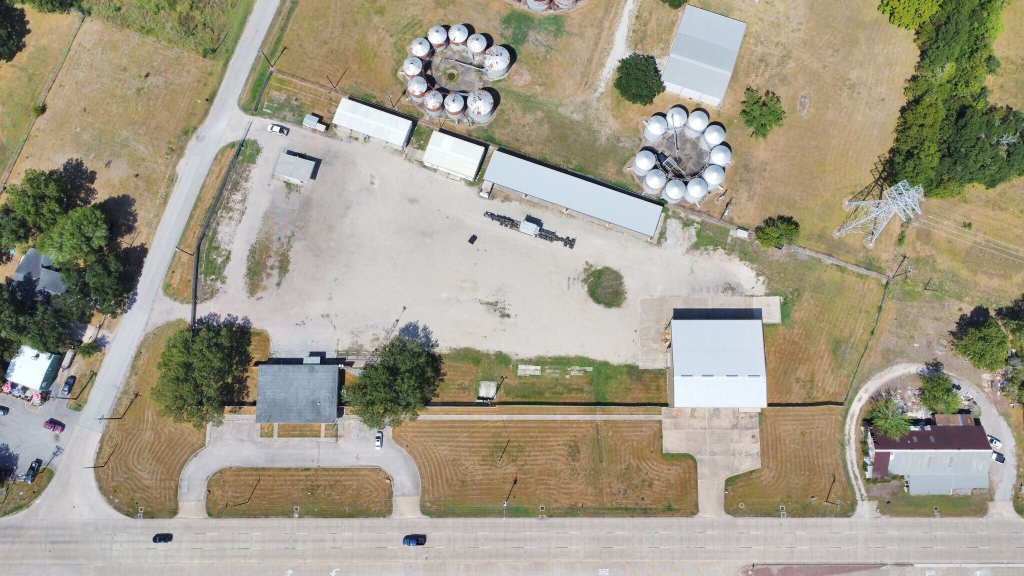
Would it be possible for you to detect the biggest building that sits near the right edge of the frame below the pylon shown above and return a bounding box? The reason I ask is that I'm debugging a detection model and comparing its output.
[862,425,992,495]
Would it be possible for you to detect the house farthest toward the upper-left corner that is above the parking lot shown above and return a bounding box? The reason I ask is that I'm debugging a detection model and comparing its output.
[9,249,62,302]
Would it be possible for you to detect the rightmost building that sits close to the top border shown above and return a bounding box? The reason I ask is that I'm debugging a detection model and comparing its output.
[660,5,746,106]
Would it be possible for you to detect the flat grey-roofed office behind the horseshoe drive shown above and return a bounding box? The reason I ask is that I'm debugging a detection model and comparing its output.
[255,355,355,423]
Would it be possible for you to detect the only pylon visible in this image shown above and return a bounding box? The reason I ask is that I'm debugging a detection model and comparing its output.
[836,181,924,246]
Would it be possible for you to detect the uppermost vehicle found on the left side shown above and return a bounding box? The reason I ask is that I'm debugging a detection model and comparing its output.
[267,124,289,136]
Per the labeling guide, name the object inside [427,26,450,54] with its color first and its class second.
white silo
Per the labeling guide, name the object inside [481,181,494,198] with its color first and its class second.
white vehicle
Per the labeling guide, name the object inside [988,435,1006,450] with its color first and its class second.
white car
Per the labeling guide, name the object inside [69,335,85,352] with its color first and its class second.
black car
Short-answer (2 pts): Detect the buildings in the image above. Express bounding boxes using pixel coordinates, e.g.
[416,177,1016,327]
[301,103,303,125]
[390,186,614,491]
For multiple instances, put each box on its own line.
[5,344,62,390]
[333,98,413,151]
[482,149,664,244]
[862,425,992,495]
[255,355,355,423]
[422,131,485,182]
[273,153,316,185]
[660,5,746,106]
[9,249,62,302]
[667,320,768,415]
[303,114,321,131]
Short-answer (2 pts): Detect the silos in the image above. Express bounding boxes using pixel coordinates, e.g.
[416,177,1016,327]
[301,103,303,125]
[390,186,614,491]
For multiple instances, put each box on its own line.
[397,56,426,81]
[427,26,450,54]
[699,164,728,197]
[678,111,709,138]
[483,45,511,81]
[641,169,671,199]
[624,150,656,177]
[684,177,710,210]
[466,89,495,124]
[660,179,686,205]
[444,93,466,127]
[467,34,487,62]
[699,125,725,156]
[705,145,734,171]
[403,76,430,104]
[410,39,433,67]
[665,108,687,135]
[638,115,668,142]
[448,24,468,53]
[423,90,445,123]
